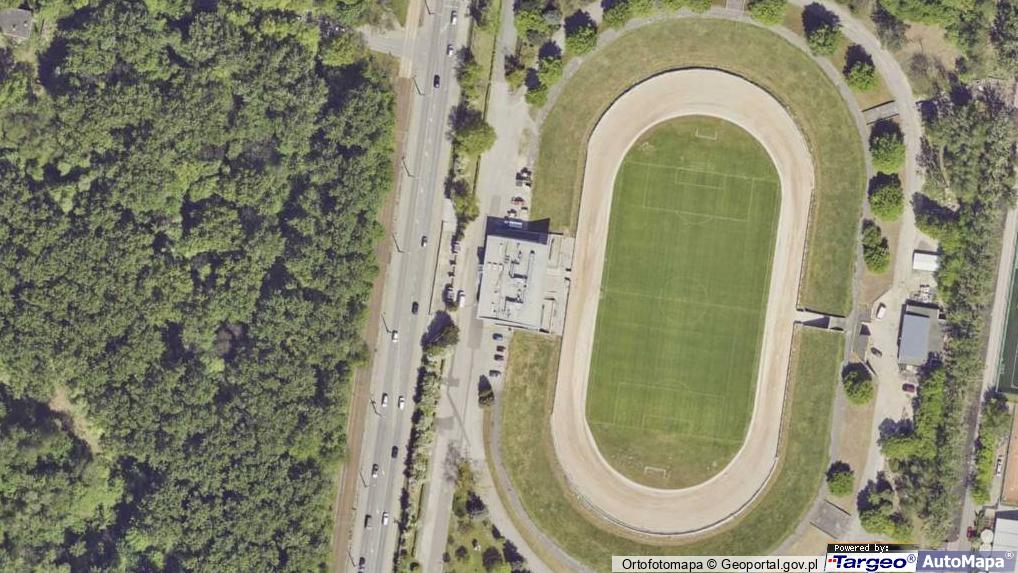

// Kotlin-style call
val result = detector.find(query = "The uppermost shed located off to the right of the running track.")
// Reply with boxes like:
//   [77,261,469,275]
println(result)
[913,252,939,272]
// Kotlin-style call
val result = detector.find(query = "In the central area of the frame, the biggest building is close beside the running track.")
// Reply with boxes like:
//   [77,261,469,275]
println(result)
[477,234,546,329]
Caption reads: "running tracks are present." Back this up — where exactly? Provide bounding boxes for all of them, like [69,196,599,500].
[551,67,814,537]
